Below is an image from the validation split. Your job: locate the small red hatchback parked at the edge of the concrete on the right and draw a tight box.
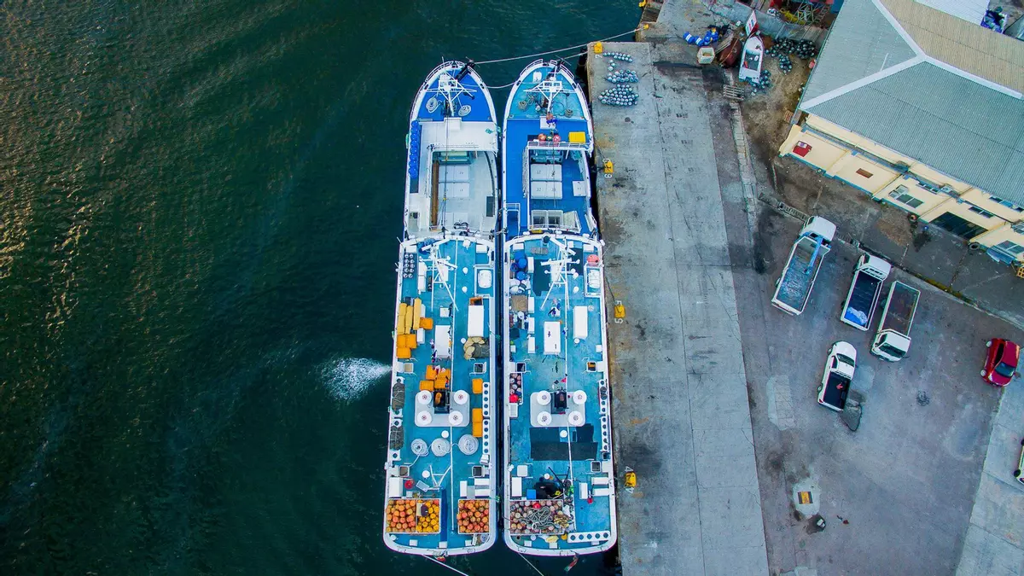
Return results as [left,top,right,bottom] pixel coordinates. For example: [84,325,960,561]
[979,334,1024,386]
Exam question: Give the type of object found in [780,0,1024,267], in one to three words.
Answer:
warehouse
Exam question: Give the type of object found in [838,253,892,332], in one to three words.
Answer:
truck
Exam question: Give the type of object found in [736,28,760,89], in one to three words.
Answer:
boat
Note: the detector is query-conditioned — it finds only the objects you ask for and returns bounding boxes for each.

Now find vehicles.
[769,216,839,318]
[838,253,892,332]
[814,341,857,417]
[867,283,920,367]
[979,334,1024,386]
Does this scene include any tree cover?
No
